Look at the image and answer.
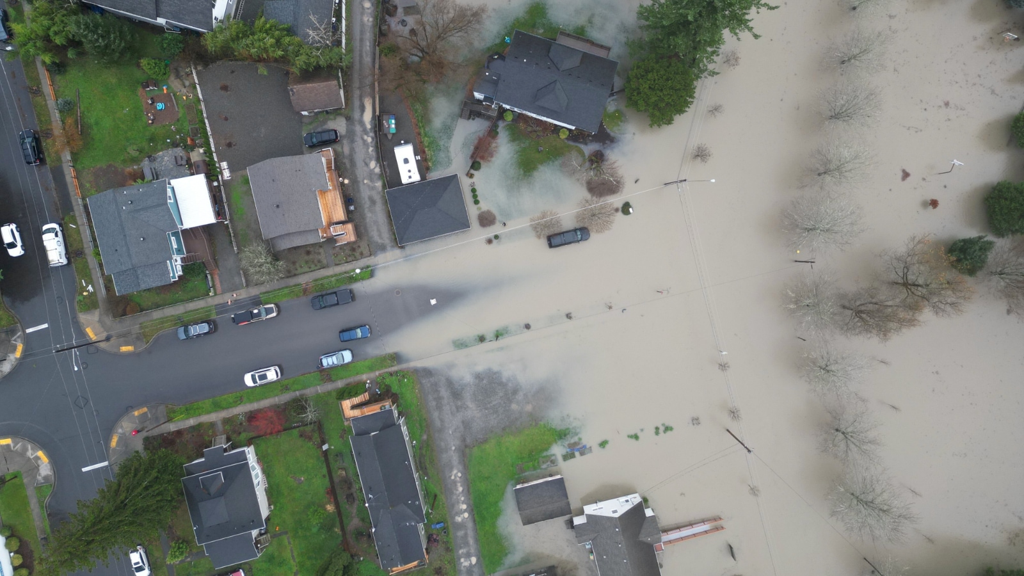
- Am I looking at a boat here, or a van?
van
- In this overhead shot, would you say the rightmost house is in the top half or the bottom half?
bottom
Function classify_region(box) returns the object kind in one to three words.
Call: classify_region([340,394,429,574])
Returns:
house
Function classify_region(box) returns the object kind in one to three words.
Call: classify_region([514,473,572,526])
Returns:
building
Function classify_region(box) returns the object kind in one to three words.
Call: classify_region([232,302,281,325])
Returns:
truck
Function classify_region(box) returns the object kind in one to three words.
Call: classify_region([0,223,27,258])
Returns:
car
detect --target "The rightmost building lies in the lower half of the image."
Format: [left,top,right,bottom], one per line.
[573,493,728,576]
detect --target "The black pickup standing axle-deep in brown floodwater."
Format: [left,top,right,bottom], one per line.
[546,228,590,250]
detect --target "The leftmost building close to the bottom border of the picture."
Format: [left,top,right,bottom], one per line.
[181,434,272,569]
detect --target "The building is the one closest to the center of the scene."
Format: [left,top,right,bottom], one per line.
[385,173,471,246]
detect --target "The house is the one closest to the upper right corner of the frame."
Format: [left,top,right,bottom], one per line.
[459,29,619,133]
